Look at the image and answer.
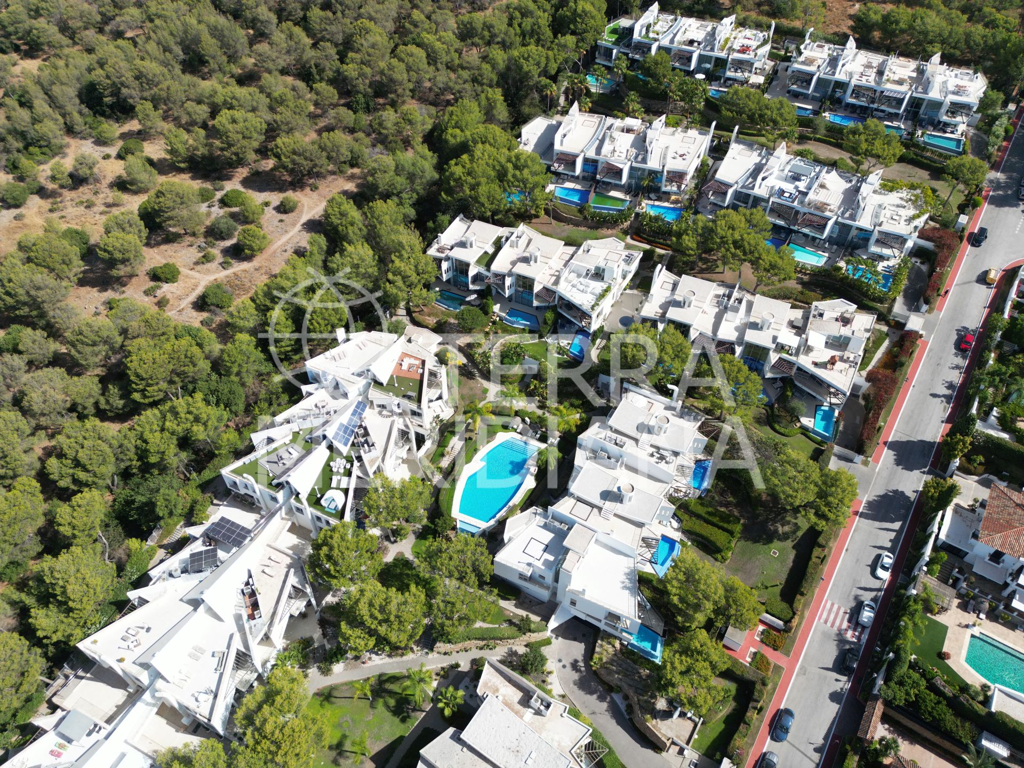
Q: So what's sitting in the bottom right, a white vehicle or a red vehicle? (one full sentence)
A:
Visible in the bottom right is a white vehicle.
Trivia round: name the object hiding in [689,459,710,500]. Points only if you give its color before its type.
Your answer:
blue swimming pool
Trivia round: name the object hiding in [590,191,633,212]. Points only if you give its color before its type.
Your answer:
green swimming pool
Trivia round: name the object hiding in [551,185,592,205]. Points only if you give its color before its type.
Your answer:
blue swimming pool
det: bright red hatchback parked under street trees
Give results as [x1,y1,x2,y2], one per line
[957,334,975,354]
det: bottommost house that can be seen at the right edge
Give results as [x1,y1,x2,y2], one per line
[930,481,1024,623]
